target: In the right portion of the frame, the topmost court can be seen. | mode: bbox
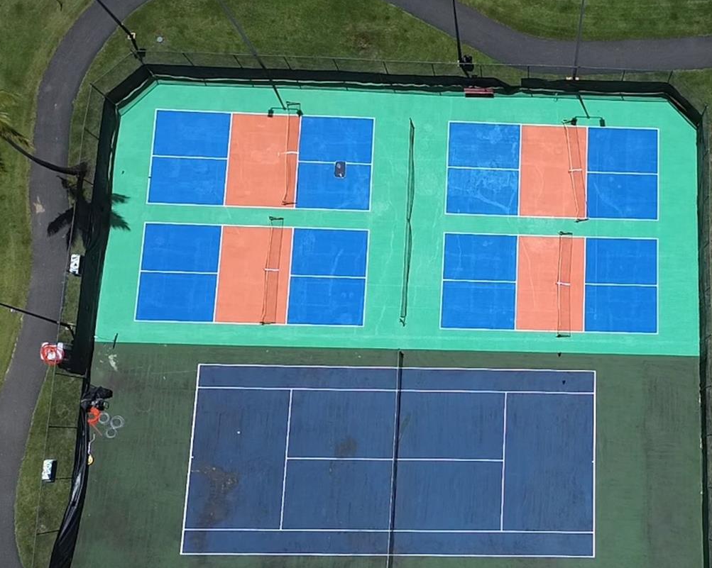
[446,121,659,221]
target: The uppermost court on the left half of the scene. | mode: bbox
[148,109,375,211]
